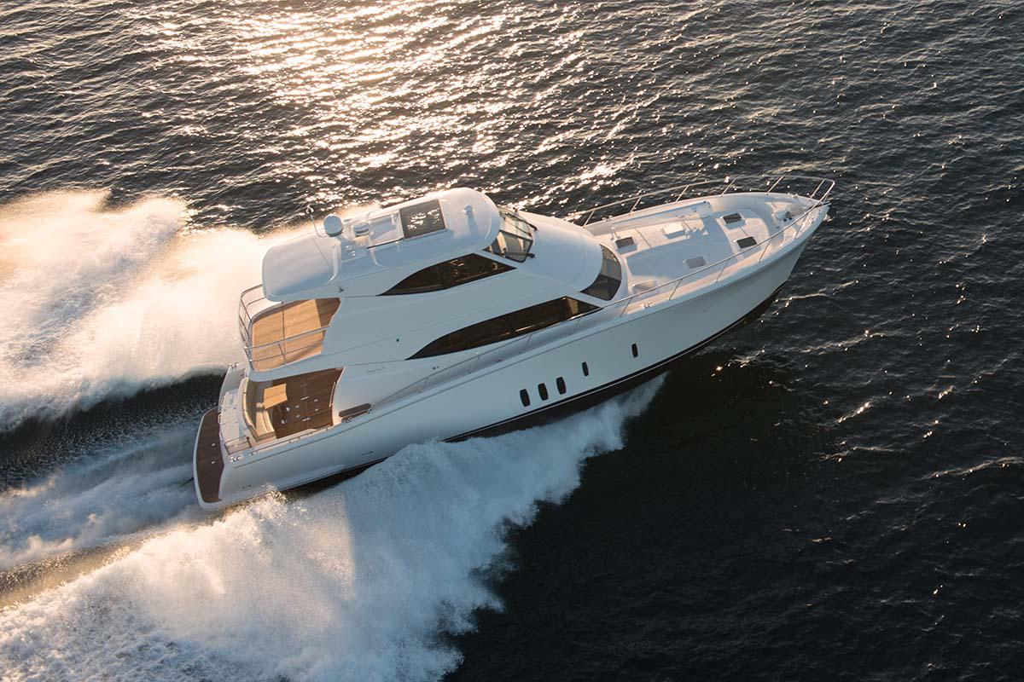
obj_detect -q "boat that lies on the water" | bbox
[183,173,840,515]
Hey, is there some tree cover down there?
No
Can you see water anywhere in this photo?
Yes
